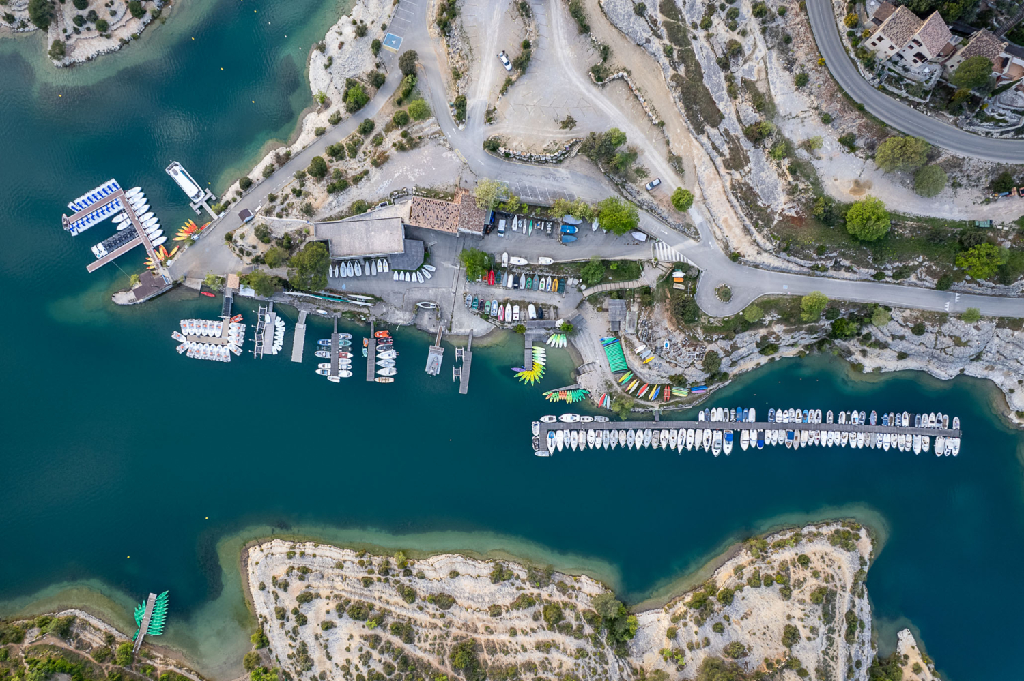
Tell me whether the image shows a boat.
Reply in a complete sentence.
Yes, the frame does contain a boat.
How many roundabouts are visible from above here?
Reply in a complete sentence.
My tally gives 1 roundabout in this photo.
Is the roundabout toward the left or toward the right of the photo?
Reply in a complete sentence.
It is on the right.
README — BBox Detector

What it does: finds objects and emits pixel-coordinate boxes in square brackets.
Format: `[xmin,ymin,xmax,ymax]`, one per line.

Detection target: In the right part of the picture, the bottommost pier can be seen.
[539,409,961,451]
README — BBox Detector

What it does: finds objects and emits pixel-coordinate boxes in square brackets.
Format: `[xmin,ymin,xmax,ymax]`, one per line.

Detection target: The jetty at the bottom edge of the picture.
[132,593,157,655]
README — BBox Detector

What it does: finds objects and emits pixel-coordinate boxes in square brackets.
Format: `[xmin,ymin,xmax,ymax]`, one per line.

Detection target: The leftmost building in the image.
[133,270,178,301]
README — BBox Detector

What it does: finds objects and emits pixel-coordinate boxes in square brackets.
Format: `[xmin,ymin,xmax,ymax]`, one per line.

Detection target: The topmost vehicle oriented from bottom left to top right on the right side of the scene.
[644,176,662,192]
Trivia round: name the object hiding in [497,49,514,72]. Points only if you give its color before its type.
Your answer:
white car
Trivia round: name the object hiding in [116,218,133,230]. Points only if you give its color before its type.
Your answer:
white boat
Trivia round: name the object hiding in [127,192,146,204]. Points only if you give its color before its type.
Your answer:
white boat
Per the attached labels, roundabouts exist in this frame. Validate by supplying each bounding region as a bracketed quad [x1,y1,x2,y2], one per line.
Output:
[696,266,751,316]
